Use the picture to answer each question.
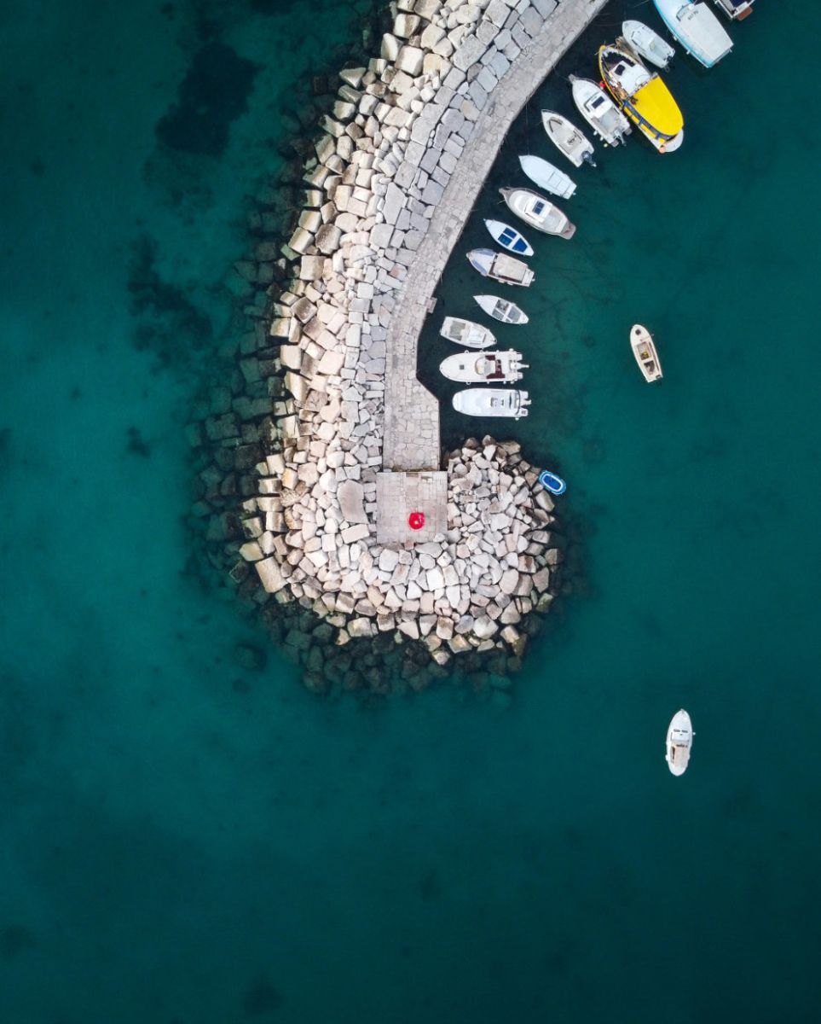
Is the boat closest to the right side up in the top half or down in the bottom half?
top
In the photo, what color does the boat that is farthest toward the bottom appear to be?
white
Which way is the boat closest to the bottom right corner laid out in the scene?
vertically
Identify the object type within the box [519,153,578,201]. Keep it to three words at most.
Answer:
boat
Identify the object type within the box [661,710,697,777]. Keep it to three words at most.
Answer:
boat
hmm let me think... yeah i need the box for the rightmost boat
[715,0,754,20]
